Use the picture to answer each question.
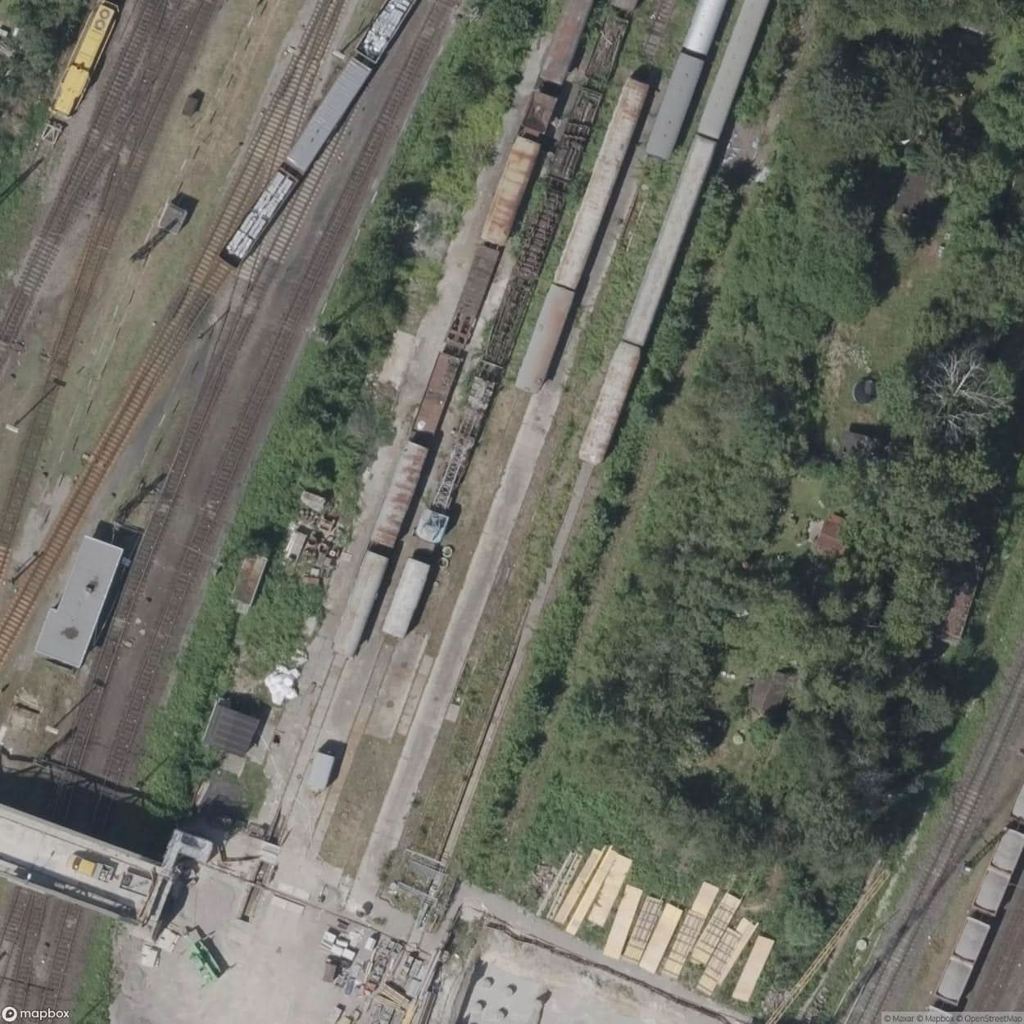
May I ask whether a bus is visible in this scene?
Yes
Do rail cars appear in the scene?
Yes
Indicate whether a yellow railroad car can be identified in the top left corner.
Yes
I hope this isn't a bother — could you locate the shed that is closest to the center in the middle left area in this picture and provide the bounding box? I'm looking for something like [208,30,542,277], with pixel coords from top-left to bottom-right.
[232,557,269,606]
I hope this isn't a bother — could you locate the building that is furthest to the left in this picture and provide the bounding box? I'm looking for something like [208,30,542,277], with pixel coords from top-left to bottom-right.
[35,536,124,669]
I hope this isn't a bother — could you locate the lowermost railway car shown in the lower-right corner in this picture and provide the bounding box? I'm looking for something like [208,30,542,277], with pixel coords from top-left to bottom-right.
[924,1003,954,1024]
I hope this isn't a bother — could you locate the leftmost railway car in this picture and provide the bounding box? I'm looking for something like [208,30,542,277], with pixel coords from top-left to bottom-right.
[49,0,123,121]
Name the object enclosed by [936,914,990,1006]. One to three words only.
rail car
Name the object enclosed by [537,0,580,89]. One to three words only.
rail car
